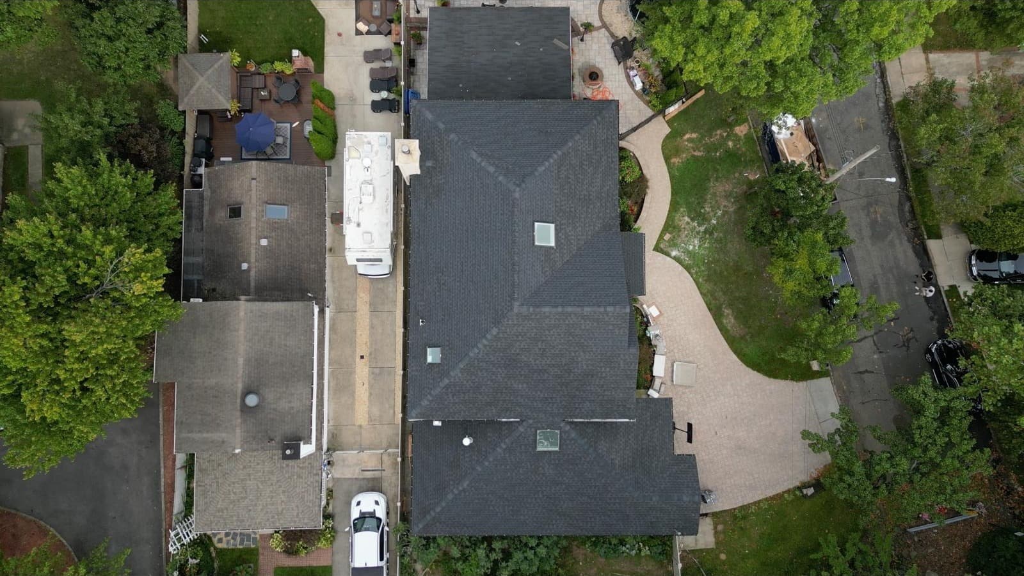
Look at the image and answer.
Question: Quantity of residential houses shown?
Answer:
2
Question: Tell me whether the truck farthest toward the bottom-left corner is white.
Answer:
Yes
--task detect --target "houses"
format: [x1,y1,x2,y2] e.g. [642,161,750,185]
[153,160,330,534]
[395,7,700,537]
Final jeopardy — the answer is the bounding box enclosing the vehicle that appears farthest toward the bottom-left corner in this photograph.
[345,490,391,576]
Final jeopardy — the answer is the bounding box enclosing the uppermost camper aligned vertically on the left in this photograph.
[345,130,399,279]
